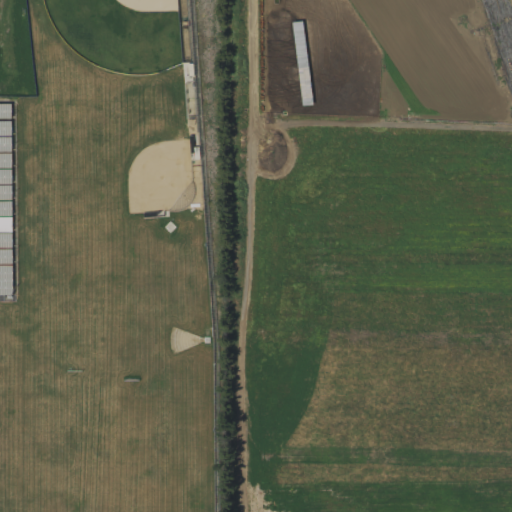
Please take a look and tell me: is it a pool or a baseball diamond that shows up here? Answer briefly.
baseball diamond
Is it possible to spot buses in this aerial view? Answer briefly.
No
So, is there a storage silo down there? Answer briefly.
No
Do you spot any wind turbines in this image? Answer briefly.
No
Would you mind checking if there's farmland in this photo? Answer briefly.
Yes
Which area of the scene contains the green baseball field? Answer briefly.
top left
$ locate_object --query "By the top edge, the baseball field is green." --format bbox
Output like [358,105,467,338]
[45,0,183,74]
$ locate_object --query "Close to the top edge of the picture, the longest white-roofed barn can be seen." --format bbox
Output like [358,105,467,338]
[293,20,313,105]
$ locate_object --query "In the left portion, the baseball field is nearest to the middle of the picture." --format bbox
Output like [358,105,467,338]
[129,139,196,214]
